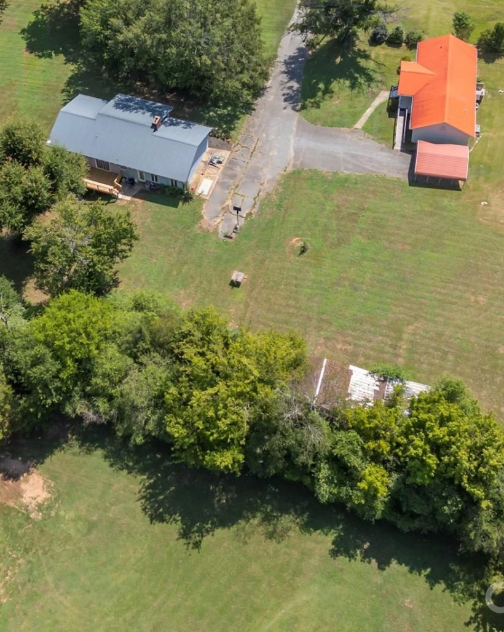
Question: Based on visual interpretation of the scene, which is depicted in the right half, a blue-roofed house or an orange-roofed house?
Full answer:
Looking in the right half, you will find an orange-roofed house.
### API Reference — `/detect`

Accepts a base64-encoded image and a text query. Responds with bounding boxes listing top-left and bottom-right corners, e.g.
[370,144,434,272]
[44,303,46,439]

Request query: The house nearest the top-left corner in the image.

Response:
[47,95,213,194]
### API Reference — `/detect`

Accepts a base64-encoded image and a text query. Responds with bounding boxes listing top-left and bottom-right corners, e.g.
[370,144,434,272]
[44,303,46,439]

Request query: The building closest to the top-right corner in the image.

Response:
[394,35,477,151]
